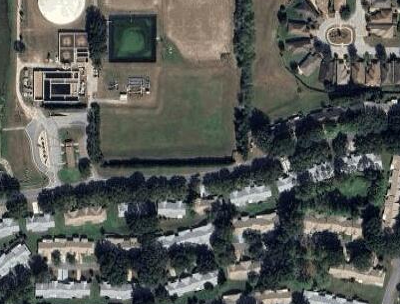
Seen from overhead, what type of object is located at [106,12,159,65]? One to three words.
pond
